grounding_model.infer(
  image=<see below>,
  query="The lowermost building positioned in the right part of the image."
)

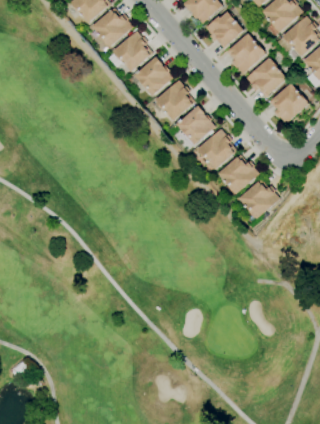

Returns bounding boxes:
[240,180,280,218]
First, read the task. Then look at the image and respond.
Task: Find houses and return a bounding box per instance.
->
[177,106,214,144]
[196,130,238,168]
[92,8,133,46]
[283,17,320,56]
[220,157,260,195]
[114,31,155,70]
[269,82,310,121]
[135,57,172,96]
[188,0,224,22]
[240,180,280,218]
[304,46,320,78]
[70,0,112,22]
[264,0,304,32]
[246,58,288,96]
[205,8,246,46]
[226,32,268,70]
[155,81,196,120]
